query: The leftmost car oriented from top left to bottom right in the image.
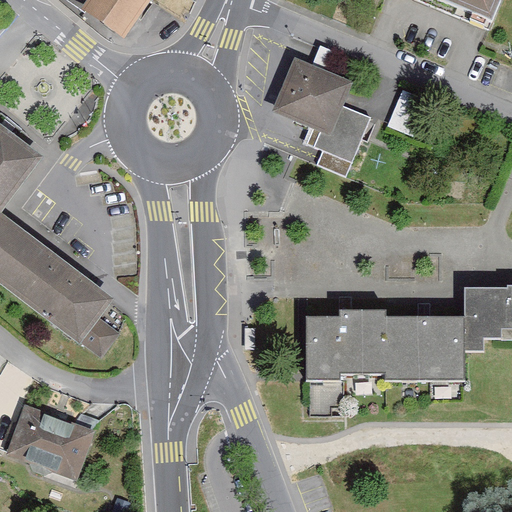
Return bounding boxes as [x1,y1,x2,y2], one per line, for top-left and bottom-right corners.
[70,238,92,258]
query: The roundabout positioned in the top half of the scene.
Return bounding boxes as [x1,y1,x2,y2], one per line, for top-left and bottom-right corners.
[103,50,241,187]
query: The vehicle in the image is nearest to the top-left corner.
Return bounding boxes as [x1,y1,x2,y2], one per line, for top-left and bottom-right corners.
[158,20,182,40]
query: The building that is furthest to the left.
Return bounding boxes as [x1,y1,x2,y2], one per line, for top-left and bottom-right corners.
[0,124,43,208]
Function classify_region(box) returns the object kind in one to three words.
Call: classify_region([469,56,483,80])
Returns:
car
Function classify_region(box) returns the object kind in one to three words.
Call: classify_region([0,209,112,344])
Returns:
building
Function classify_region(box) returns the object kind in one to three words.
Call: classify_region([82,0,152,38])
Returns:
house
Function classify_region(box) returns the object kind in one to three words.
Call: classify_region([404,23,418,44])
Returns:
vehicle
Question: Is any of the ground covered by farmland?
No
